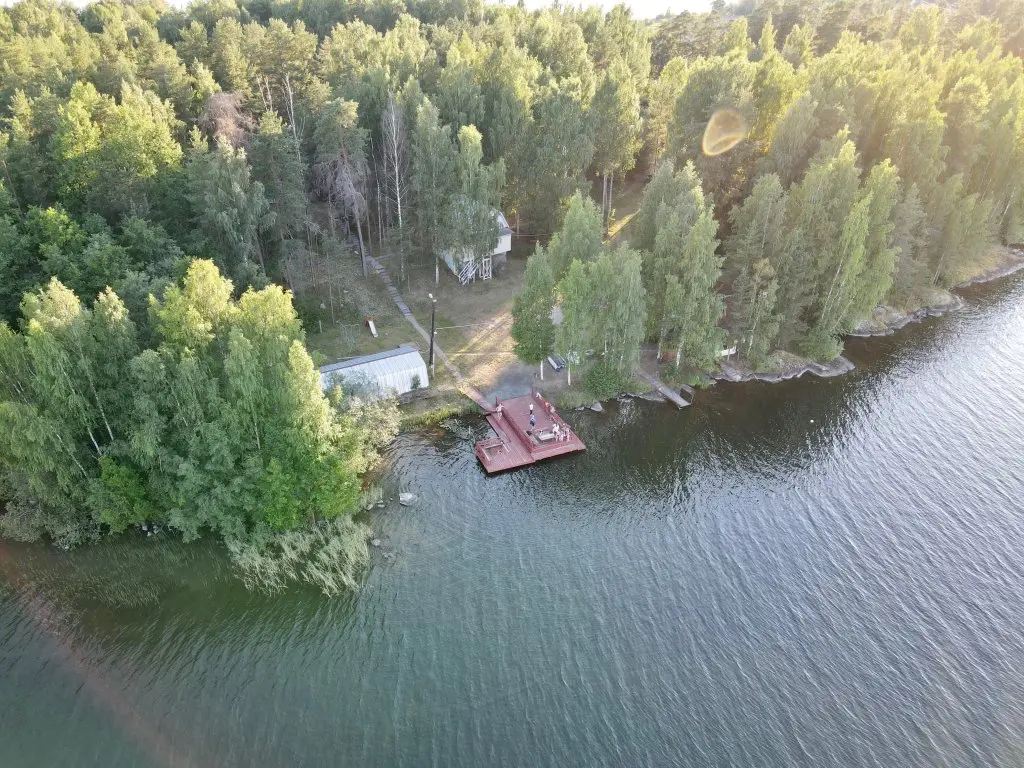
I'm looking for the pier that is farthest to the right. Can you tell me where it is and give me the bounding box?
[634,368,690,410]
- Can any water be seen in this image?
Yes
